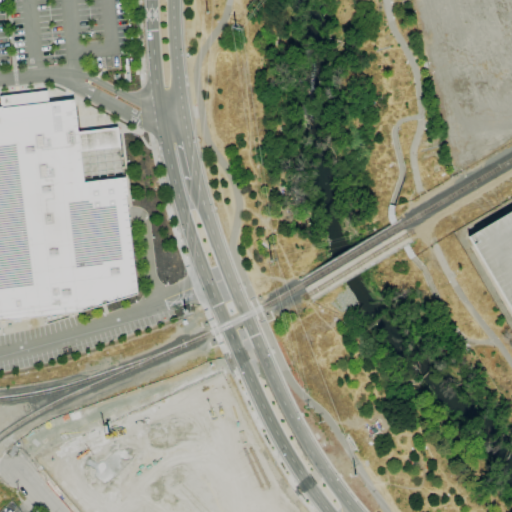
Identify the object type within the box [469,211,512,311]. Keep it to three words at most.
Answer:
building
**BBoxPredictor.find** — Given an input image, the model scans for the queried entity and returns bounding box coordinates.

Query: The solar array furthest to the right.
[70,202,123,265]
